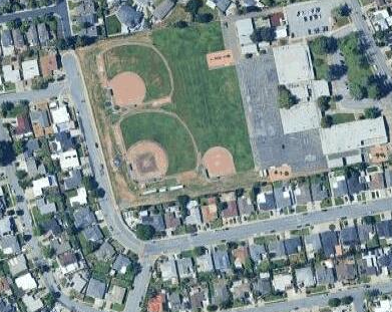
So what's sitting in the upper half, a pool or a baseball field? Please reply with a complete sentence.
There is a baseball field in the upper half.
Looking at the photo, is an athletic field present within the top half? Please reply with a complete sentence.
Yes, you'll find an athletic field within the top half.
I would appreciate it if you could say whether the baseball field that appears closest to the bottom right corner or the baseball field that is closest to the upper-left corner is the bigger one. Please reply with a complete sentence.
The baseball field that is closest to the upper-left corner takes up more space than the baseball field that appears closest to the bottom right corner does.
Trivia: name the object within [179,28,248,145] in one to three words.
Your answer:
sports field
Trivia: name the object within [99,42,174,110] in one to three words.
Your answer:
baseball field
